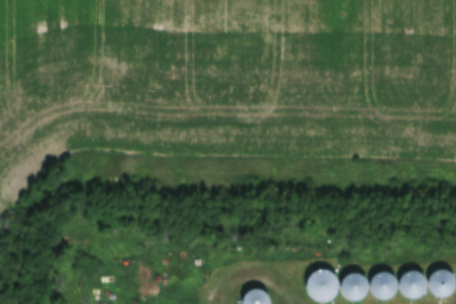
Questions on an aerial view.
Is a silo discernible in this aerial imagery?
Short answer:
Yes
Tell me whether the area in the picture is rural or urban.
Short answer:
rural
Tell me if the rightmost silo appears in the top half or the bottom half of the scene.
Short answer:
bottom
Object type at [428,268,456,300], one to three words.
silo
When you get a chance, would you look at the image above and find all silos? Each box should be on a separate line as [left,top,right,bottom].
[340,272,369,303]
[428,268,456,300]
[306,268,340,302]
[240,288,272,304]
[398,270,428,302]
[369,271,398,303]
